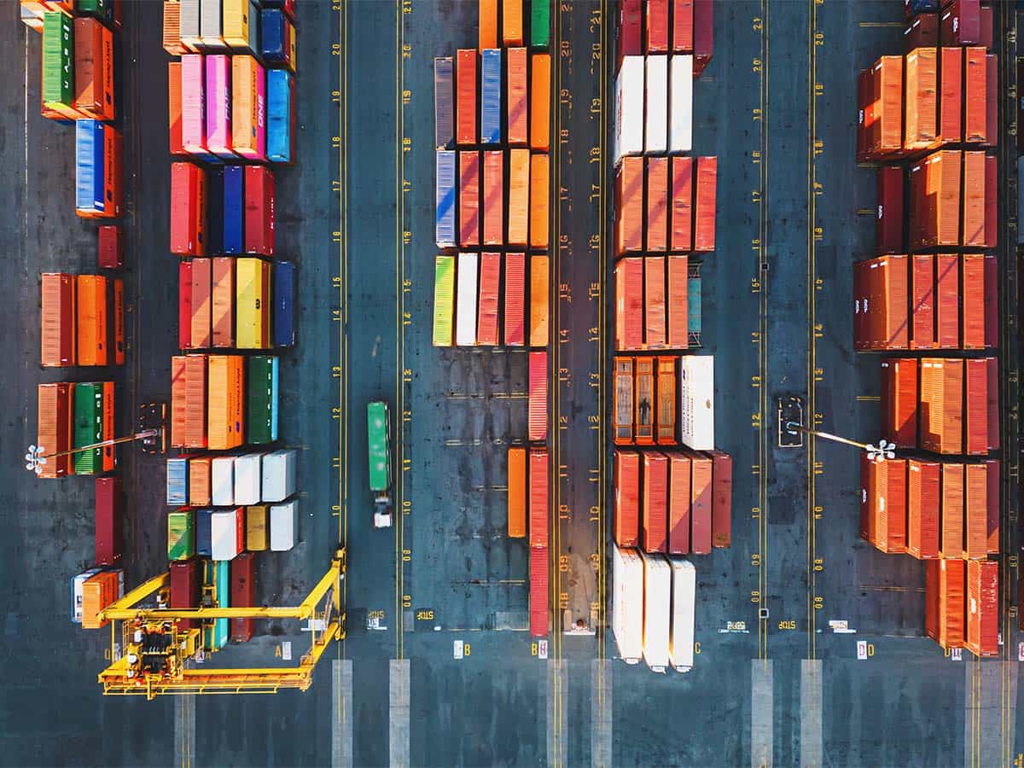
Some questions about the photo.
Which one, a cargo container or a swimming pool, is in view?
cargo container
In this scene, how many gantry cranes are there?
one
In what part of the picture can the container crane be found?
bottom left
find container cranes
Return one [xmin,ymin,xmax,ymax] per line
[100,550,345,706]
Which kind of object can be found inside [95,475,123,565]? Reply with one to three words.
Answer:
shipping container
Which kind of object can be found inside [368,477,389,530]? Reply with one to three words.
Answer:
truck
